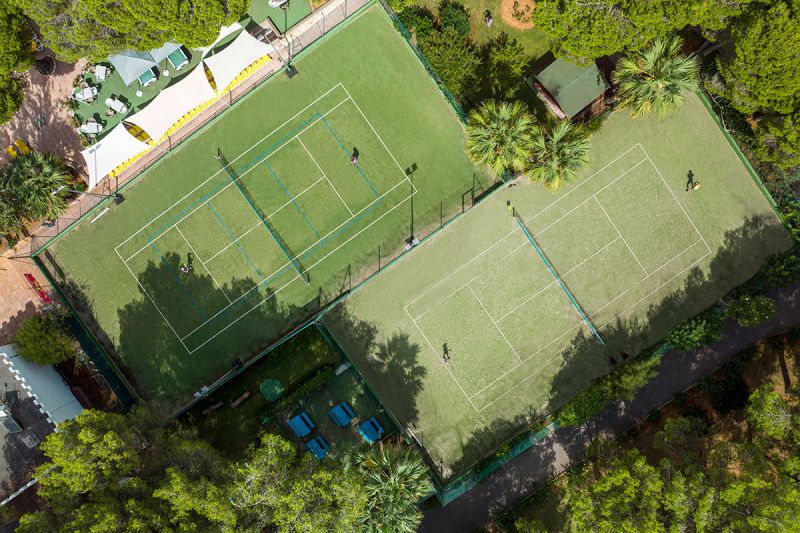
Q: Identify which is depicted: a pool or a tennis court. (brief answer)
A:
tennis court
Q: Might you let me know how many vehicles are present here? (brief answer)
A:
zero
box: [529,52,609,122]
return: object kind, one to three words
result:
shed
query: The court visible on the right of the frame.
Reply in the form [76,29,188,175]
[316,72,795,485]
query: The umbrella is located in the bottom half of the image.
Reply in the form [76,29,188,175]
[260,378,284,403]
